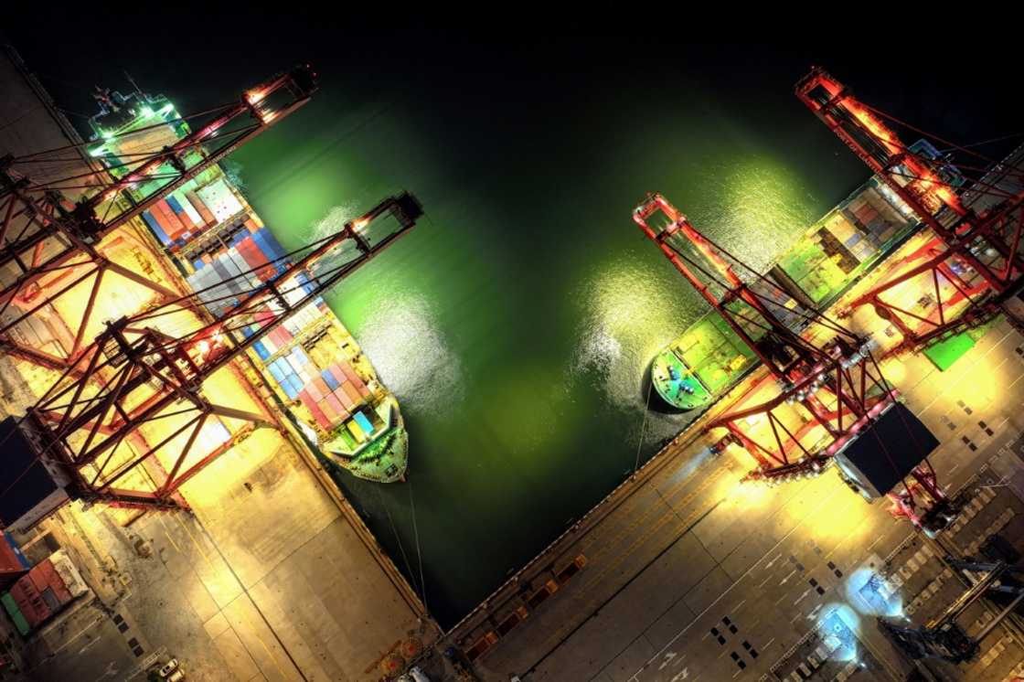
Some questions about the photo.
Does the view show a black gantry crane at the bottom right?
Yes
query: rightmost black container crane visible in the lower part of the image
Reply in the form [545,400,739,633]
[875,534,1024,676]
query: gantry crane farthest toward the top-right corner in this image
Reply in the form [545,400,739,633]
[785,64,1024,368]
